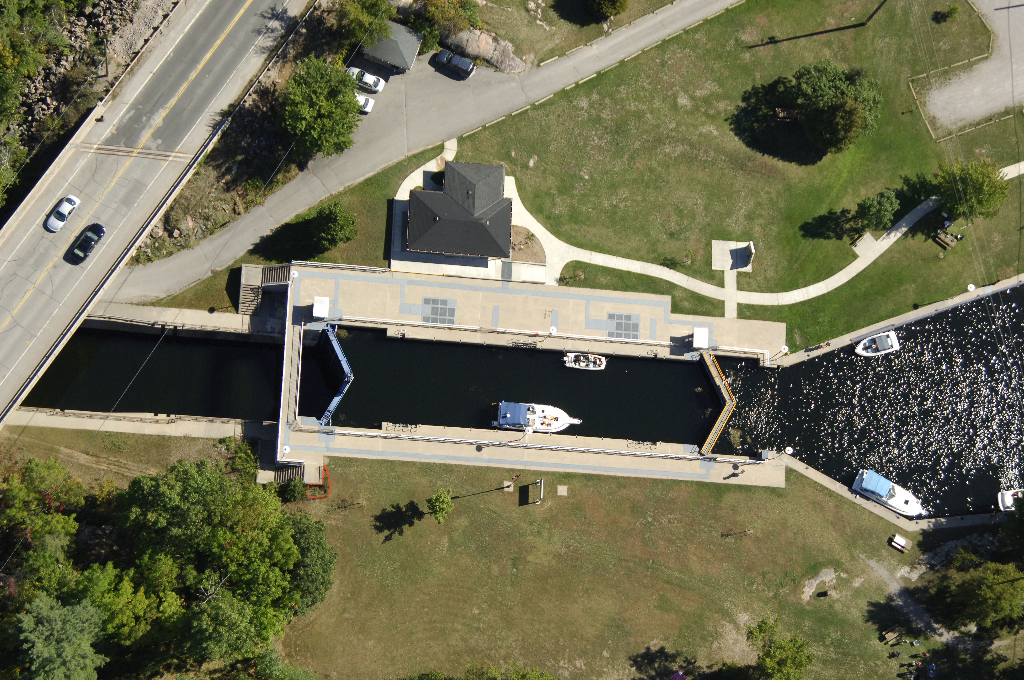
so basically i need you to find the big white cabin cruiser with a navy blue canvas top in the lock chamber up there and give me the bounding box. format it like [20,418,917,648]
[489,400,583,431]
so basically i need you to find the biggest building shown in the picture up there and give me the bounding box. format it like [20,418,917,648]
[407,161,512,258]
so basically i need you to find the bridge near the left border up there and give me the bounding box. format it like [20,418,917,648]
[0,97,200,430]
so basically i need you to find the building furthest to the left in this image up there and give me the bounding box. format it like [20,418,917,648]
[313,296,329,320]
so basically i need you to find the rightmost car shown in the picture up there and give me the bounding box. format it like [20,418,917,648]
[435,47,477,79]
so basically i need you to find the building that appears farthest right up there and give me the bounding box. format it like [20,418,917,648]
[690,327,708,351]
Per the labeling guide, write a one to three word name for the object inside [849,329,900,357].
boat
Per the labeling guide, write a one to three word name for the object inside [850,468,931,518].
boat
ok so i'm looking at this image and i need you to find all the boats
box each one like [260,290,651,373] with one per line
[560,349,611,371]
[996,490,1024,512]
[849,329,900,357]
[850,468,931,518]
[489,400,583,431]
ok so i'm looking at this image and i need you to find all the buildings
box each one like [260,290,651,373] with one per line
[313,296,329,320]
[363,24,422,74]
[690,327,708,351]
[407,161,512,258]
